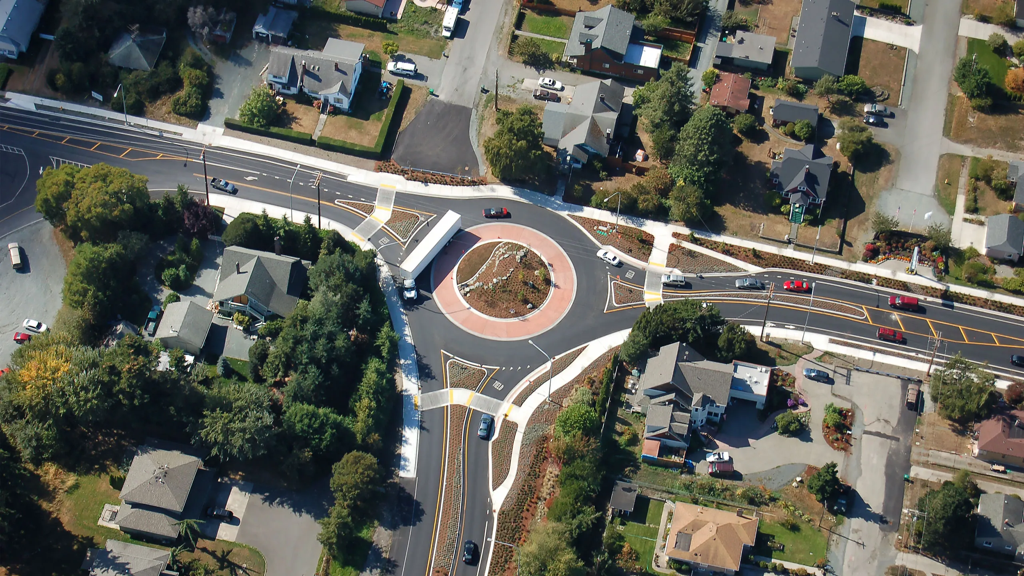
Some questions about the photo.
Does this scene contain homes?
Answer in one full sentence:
Yes, there is a home in the image.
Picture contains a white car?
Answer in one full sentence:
Yes, there's a white car down there.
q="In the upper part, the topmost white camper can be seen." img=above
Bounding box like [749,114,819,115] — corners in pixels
[444,3,458,40]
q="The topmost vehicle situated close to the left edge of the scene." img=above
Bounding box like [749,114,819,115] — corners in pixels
[8,243,21,269]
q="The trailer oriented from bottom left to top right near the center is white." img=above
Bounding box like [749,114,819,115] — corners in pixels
[400,209,461,276]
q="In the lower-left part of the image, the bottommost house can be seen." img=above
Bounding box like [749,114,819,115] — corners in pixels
[81,540,171,576]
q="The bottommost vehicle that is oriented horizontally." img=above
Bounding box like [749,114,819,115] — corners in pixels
[205,506,234,521]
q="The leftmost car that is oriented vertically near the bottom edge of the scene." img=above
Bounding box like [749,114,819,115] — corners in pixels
[464,541,476,565]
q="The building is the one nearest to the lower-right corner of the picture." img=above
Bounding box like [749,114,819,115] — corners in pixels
[975,496,1024,557]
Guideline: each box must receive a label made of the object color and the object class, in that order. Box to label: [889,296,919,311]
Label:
red vehicle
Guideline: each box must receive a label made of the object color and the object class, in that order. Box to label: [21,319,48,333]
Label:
white car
